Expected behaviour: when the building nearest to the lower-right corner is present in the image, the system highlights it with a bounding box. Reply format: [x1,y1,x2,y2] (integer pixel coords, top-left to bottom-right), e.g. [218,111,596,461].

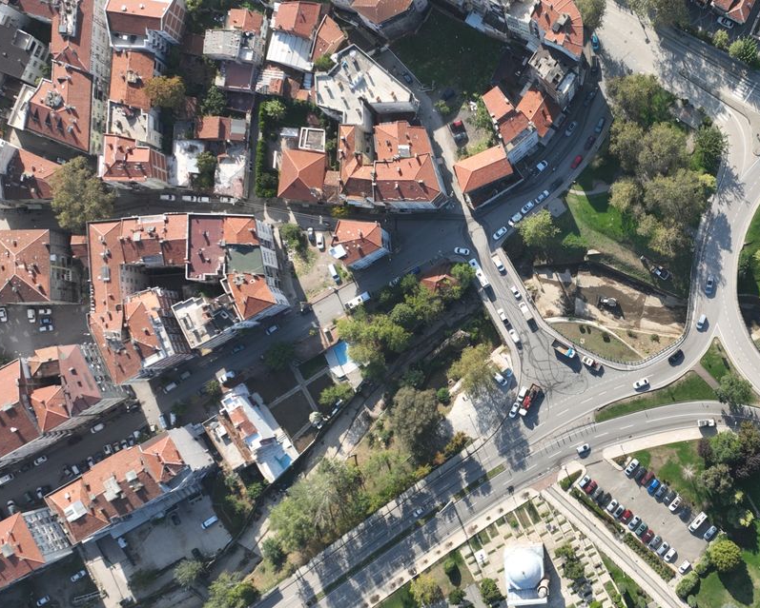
[503,537,552,607]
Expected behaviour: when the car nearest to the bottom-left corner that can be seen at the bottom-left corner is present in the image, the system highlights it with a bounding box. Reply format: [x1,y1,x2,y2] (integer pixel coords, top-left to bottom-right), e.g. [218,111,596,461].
[35,594,54,607]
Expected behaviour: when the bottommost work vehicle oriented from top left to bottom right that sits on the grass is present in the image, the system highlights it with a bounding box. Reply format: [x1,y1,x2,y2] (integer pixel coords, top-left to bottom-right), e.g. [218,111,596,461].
[642,258,669,282]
